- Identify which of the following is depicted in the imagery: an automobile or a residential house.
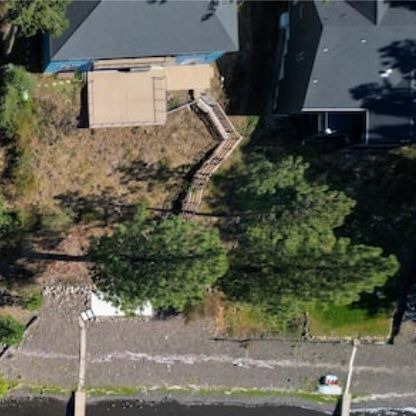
residential house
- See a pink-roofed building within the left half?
No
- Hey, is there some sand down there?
Yes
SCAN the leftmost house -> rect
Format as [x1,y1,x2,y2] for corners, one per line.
[44,0,239,133]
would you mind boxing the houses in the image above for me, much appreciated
[44,0,239,133]
[275,0,416,150]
